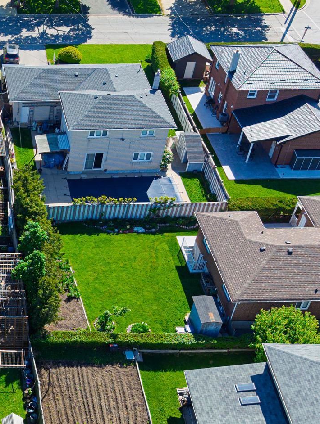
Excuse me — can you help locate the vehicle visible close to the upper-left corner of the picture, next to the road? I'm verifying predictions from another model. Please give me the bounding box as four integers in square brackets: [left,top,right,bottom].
[1,44,21,64]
